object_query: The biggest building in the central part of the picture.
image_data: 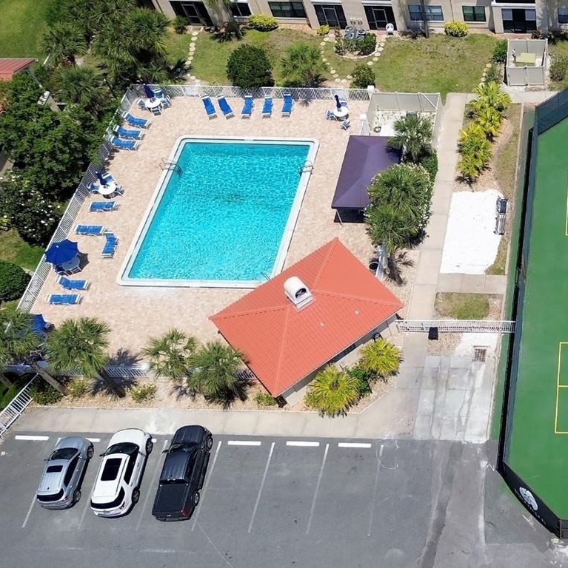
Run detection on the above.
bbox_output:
[209,237,404,405]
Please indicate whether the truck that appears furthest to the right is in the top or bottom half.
bottom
